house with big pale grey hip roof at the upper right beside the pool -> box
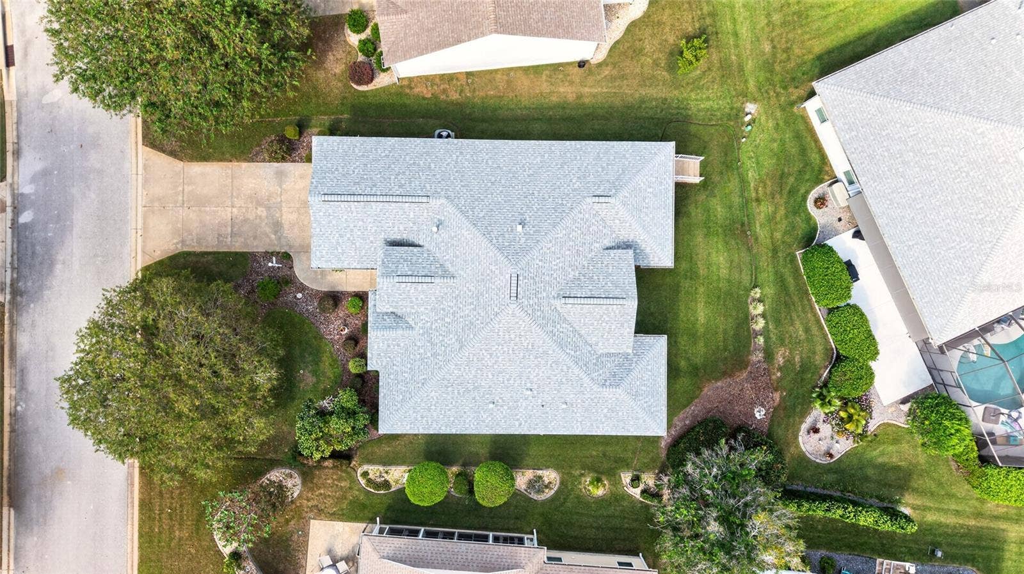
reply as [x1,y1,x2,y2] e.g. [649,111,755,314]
[793,0,1024,349]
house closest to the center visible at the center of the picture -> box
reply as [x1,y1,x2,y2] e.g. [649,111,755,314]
[306,135,677,438]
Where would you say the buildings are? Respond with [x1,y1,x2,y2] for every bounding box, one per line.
[368,0,616,83]
[793,0,1024,349]
[306,135,677,438]
[356,514,658,574]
